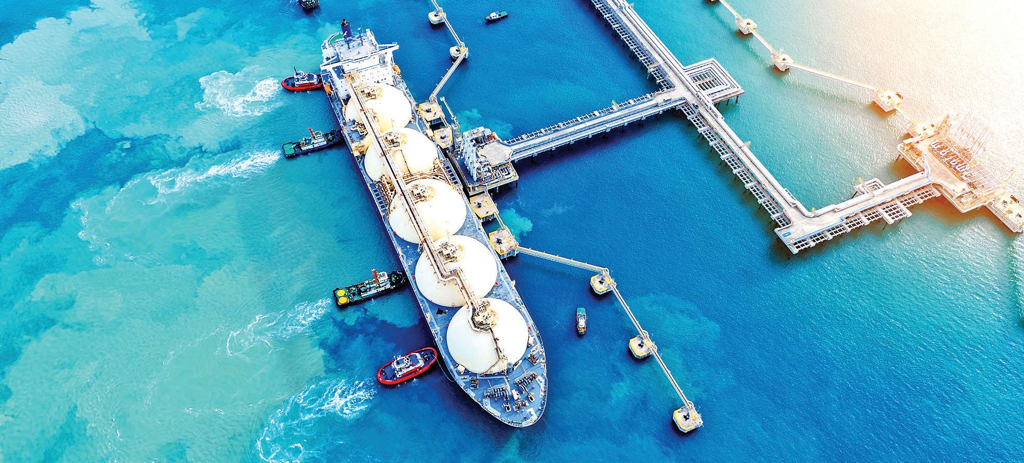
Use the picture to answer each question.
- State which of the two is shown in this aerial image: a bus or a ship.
ship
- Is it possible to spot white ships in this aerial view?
Yes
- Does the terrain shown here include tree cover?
No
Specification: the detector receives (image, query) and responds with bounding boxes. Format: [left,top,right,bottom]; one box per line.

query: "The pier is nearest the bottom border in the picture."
[771,167,940,265]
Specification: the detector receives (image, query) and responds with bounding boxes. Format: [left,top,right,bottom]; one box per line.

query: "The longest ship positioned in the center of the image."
[314,16,548,428]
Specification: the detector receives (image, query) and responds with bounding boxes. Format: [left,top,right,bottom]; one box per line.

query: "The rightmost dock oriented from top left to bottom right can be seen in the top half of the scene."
[586,0,824,255]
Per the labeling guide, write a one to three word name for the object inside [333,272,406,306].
boat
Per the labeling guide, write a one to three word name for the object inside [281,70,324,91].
boat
